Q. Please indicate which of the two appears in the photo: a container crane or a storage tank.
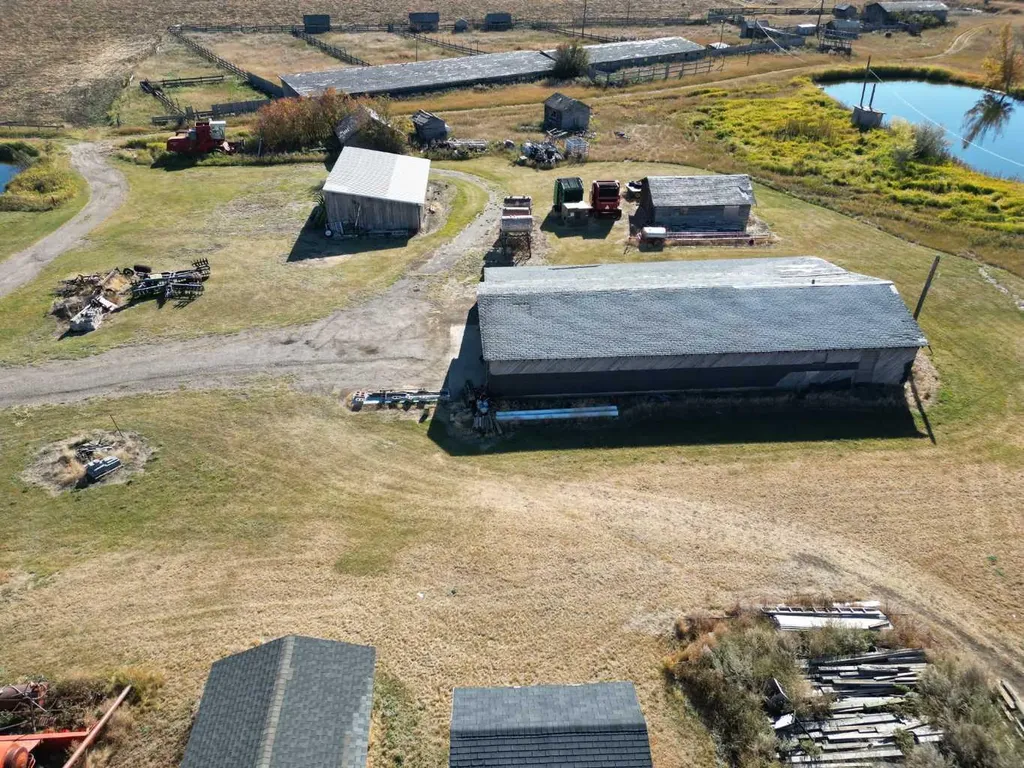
storage tank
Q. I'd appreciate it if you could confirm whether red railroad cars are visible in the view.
No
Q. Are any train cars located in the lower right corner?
No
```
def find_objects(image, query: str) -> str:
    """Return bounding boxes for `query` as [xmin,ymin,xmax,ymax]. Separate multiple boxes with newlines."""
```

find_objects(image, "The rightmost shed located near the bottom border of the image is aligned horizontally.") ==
[449,680,650,768]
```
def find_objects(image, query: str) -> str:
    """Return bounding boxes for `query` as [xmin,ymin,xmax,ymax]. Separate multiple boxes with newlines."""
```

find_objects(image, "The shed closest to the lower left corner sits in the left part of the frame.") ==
[178,633,377,768]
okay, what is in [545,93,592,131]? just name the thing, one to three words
shed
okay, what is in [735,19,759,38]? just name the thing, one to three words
shed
